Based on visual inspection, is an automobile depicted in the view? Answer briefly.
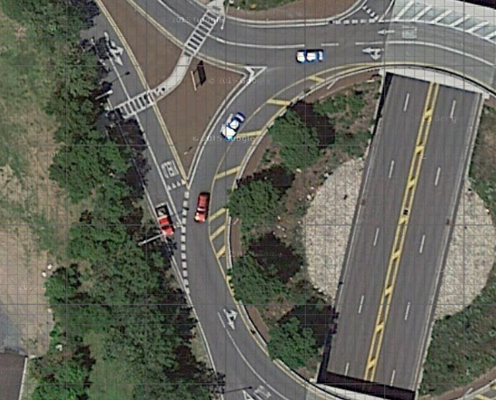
Yes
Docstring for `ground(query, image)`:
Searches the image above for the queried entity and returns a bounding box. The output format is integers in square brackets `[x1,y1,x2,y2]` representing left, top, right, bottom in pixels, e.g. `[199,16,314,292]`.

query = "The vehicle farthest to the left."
[156,203,175,233]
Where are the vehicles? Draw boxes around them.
[156,203,175,233]
[222,111,246,139]
[195,192,209,223]
[296,50,322,62]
